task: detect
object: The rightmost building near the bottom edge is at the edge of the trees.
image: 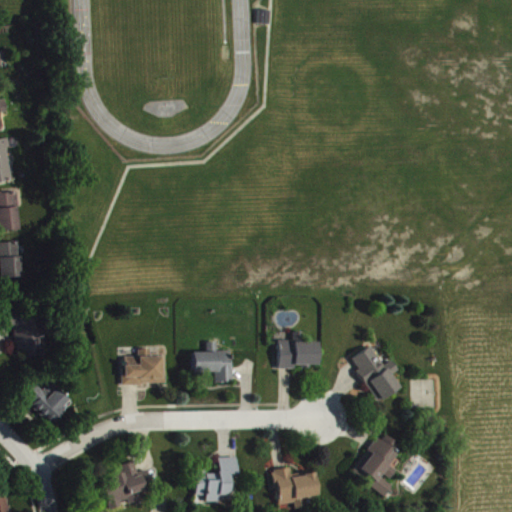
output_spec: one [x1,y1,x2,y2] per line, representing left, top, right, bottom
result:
[360,435,398,497]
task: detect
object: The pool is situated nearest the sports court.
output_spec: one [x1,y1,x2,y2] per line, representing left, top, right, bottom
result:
[400,455,433,494]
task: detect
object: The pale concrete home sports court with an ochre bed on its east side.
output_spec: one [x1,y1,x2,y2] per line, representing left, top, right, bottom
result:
[410,380,434,408]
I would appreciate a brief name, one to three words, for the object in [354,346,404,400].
house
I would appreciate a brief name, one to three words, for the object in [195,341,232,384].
house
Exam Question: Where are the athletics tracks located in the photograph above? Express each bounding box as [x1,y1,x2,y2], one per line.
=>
[72,0,252,153]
